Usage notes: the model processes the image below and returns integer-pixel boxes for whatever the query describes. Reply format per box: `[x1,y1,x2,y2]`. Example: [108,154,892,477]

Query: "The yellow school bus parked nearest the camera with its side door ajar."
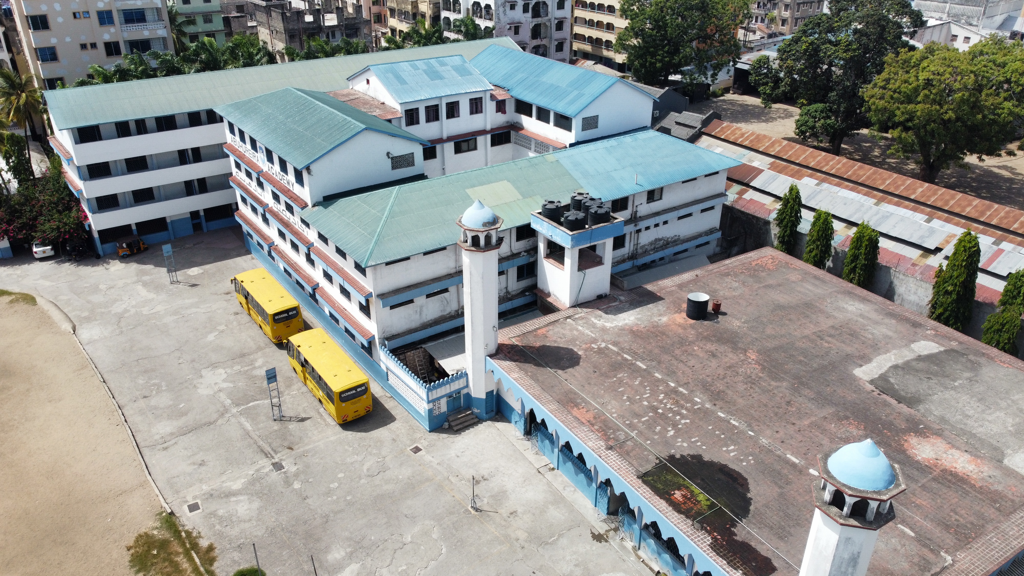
[285,335,371,422]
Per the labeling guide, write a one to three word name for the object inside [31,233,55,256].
car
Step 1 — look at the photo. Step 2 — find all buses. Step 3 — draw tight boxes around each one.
[234,273,302,340]
[285,335,371,422]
